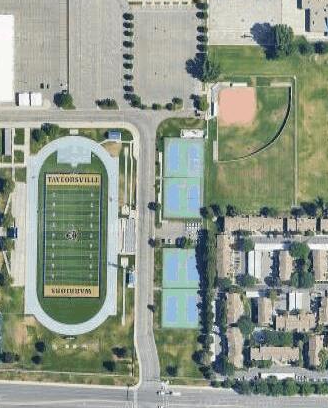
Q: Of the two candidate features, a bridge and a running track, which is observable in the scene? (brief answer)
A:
running track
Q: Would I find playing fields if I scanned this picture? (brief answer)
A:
Yes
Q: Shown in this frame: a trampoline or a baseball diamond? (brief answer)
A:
baseball diamond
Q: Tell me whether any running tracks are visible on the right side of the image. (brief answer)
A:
No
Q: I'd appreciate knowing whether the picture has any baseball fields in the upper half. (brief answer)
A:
Yes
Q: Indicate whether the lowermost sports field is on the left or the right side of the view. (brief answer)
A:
left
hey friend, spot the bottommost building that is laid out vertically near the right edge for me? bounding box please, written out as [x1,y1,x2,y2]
[308,335,323,368]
